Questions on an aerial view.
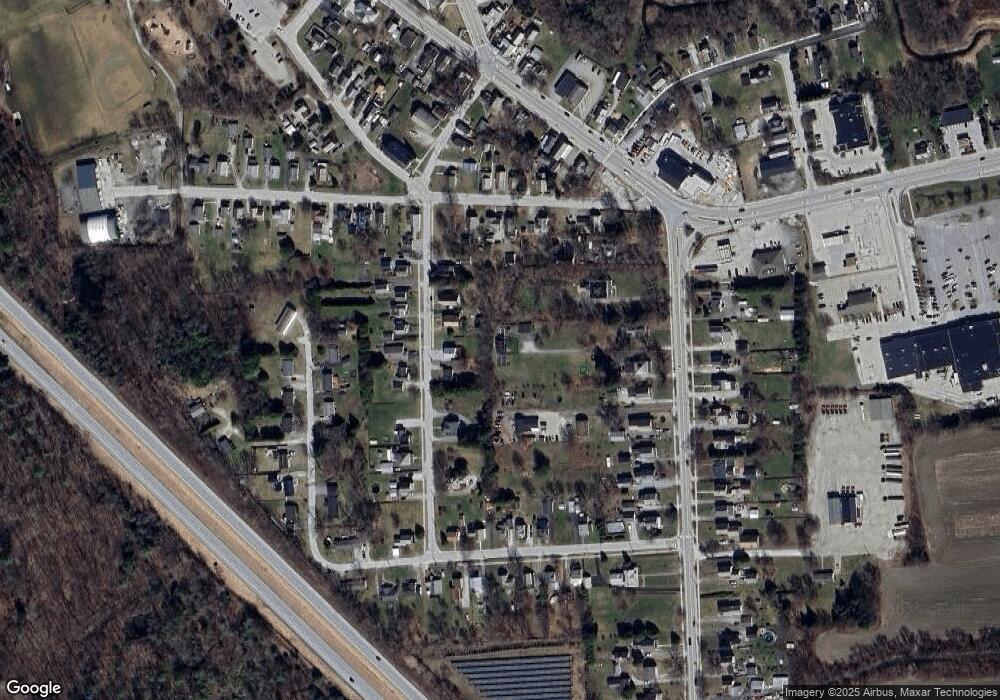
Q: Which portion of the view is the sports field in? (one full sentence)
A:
You can find the sports field in the top left area of the picture.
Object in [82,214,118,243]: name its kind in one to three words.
building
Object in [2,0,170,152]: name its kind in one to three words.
sports field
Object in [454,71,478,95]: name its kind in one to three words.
house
